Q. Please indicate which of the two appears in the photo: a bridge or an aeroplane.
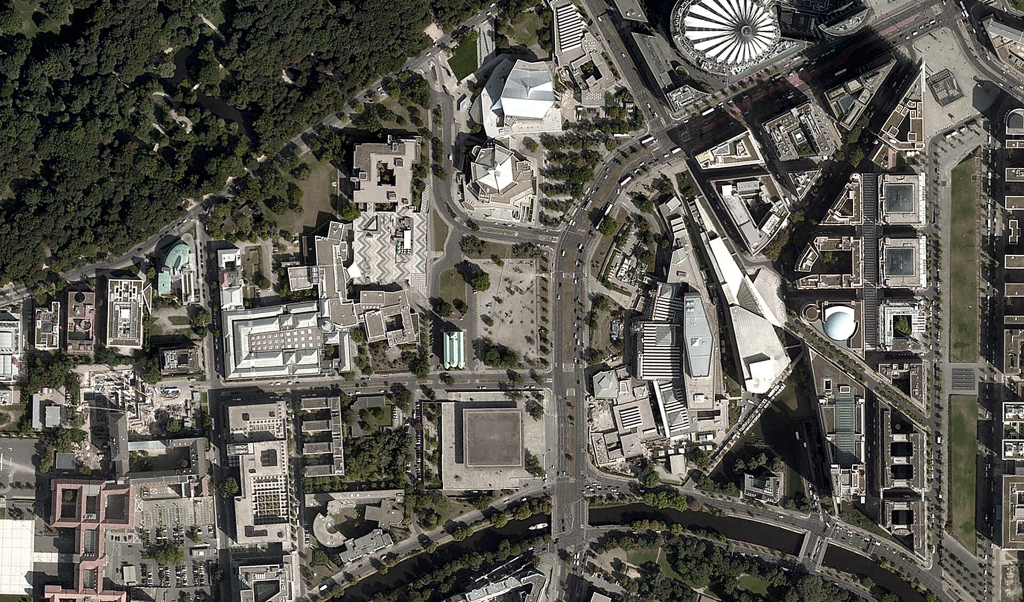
bridge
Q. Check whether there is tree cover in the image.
Yes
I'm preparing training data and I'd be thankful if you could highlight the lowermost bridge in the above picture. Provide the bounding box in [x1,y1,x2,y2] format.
[798,533,831,573]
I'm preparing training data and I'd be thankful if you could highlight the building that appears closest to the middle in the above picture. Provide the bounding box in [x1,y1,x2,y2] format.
[444,331,465,369]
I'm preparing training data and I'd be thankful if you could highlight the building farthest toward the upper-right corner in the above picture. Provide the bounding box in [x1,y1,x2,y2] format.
[984,11,1024,74]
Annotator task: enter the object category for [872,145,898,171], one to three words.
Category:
house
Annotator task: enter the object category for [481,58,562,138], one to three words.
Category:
building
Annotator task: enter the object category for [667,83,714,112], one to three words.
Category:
building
